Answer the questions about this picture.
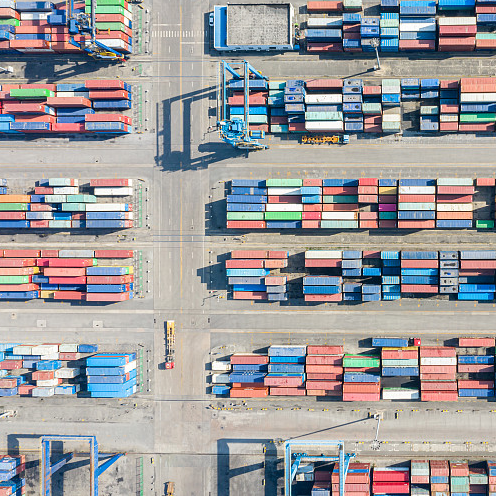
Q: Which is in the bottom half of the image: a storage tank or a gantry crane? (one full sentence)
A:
Visible in the bottom half of the image is a gantry crane.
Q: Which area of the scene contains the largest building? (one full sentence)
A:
You can find the largest building in the top area of the picture.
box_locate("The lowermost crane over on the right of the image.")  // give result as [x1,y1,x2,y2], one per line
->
[284,438,356,496]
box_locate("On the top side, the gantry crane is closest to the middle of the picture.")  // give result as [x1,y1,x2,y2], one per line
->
[219,59,271,154]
